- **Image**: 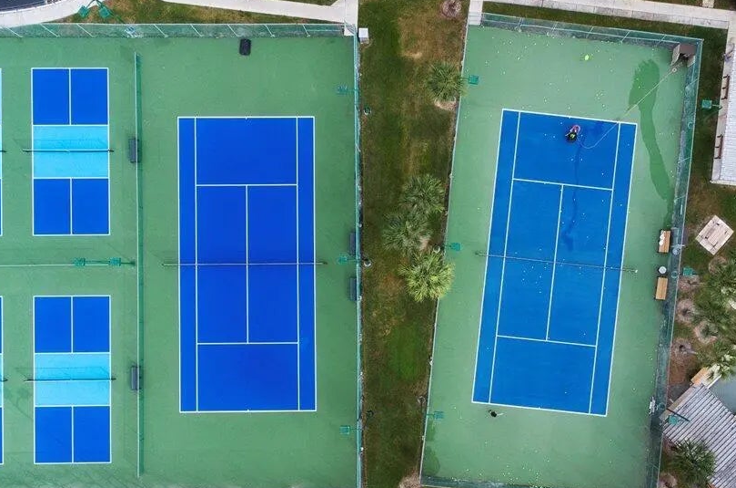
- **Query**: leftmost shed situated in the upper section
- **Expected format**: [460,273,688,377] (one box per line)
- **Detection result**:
[667,42,698,73]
